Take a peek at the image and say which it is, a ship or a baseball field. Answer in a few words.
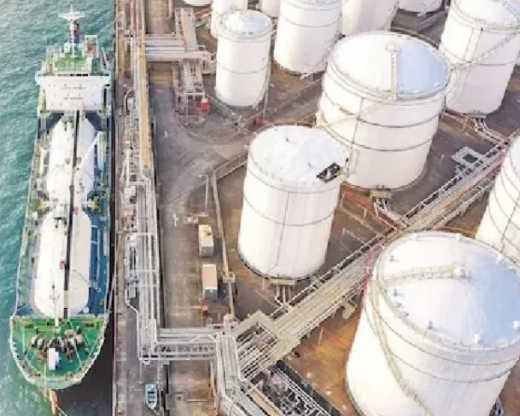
ship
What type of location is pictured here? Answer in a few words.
industrial area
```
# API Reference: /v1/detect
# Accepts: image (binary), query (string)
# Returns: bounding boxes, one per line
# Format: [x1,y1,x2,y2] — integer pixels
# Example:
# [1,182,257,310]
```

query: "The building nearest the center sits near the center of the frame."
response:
[200,220,217,255]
